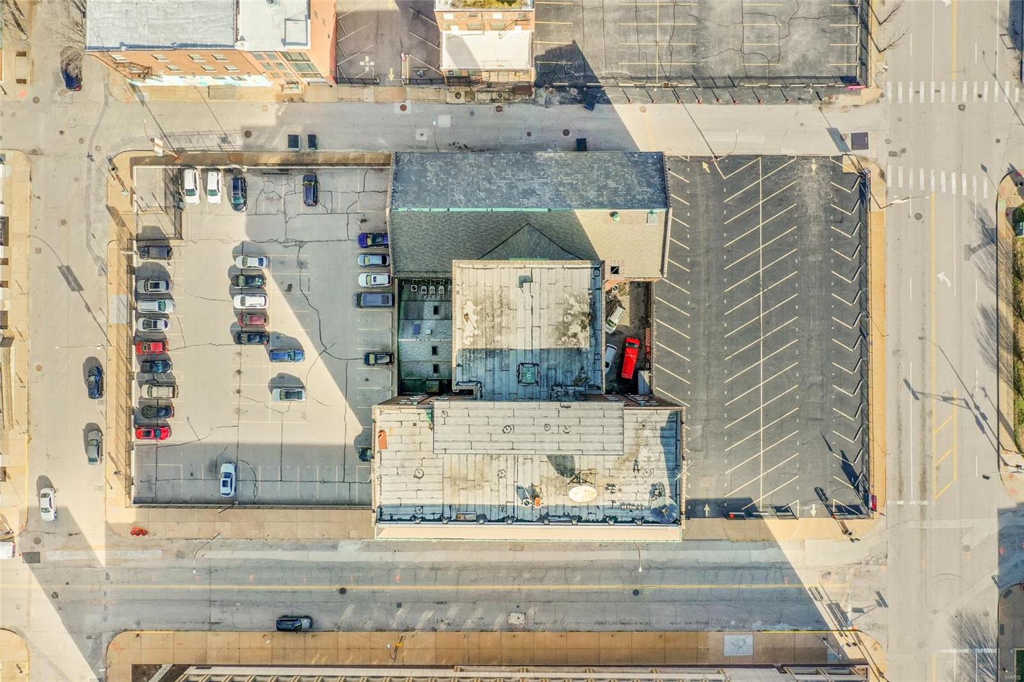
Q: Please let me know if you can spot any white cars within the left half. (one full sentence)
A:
Yes, looking within the left half, one can make out a white car.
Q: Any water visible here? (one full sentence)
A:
No, the scene doesn't show any water.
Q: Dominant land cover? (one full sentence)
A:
The bulk of the photo consists of paved ground.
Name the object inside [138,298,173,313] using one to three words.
car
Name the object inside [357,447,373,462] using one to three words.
car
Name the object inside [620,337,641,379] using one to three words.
vehicle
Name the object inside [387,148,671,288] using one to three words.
building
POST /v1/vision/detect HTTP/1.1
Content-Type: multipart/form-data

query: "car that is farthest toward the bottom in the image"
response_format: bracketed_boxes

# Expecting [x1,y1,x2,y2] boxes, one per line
[277,615,311,632]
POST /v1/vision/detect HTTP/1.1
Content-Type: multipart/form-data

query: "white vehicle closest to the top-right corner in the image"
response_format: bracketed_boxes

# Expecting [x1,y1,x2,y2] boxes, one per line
[604,300,627,333]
